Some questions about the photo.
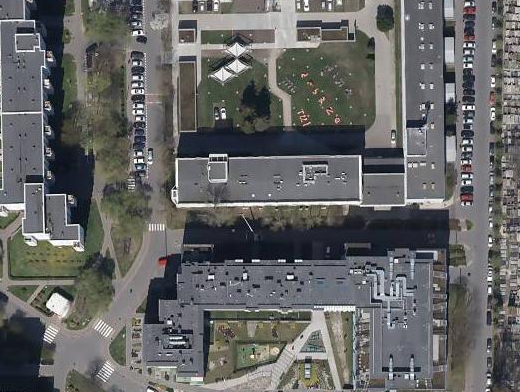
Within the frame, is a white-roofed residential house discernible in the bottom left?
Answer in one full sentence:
Yes, a white-roofed residential house can be seen in the bottom left.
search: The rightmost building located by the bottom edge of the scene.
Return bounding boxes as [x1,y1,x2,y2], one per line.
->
[138,249,447,392]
